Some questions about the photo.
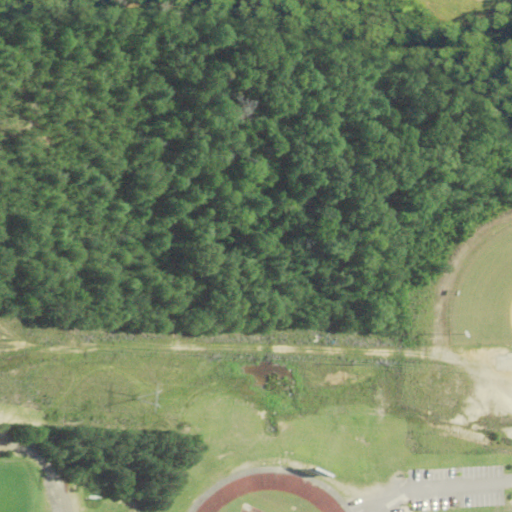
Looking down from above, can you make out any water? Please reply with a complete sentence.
No, the scene doesn't show any water.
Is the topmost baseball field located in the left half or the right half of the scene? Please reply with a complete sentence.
The topmost baseball field is on the right side of the image.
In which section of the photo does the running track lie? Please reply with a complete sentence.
The running track appears toward the bottom of the photo.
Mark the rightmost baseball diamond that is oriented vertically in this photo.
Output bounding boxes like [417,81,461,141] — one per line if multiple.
[436,218,512,353]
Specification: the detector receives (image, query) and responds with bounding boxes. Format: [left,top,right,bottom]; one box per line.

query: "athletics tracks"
[192,467,347,512]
